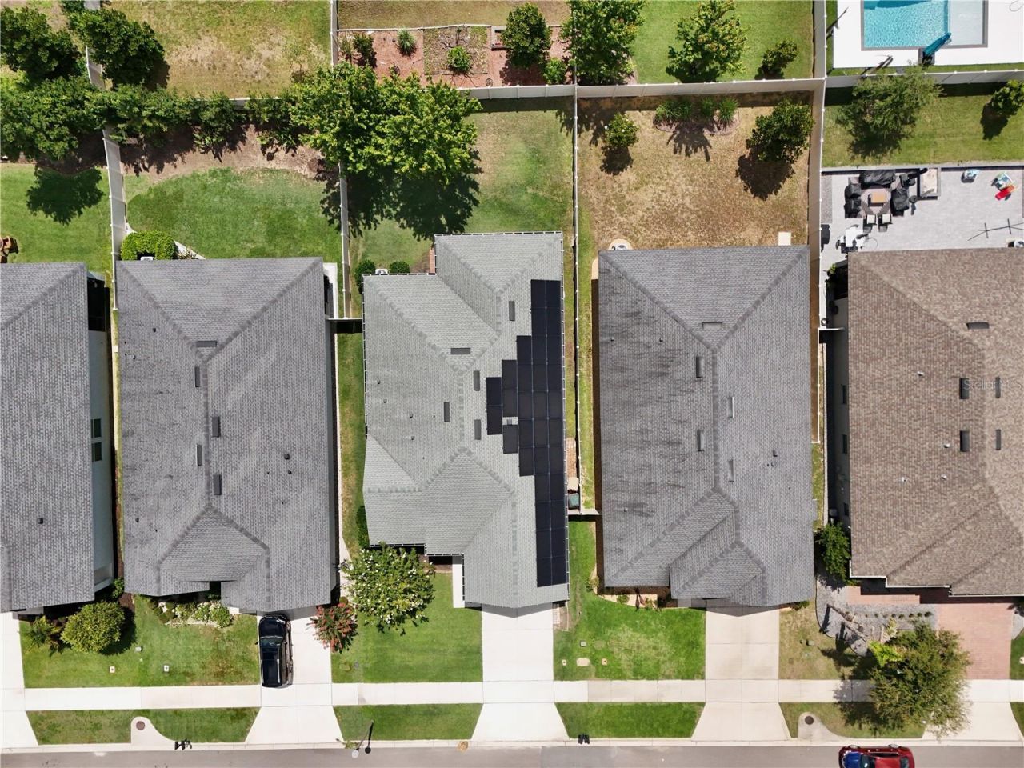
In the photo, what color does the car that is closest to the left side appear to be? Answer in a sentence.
The car that is closest to the left side is black.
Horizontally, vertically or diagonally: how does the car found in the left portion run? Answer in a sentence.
In this picture, the car found in the left portion is oriented vertically.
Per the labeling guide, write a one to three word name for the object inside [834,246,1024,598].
house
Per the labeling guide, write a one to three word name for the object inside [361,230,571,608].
house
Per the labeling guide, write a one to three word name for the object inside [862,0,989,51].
swimming pool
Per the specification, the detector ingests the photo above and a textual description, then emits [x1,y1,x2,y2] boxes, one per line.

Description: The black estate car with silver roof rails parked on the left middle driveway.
[255,613,292,687]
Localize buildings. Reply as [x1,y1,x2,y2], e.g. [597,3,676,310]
[0,261,115,614]
[361,230,571,608]
[834,246,1024,598]
[597,245,817,607]
[114,256,337,614]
